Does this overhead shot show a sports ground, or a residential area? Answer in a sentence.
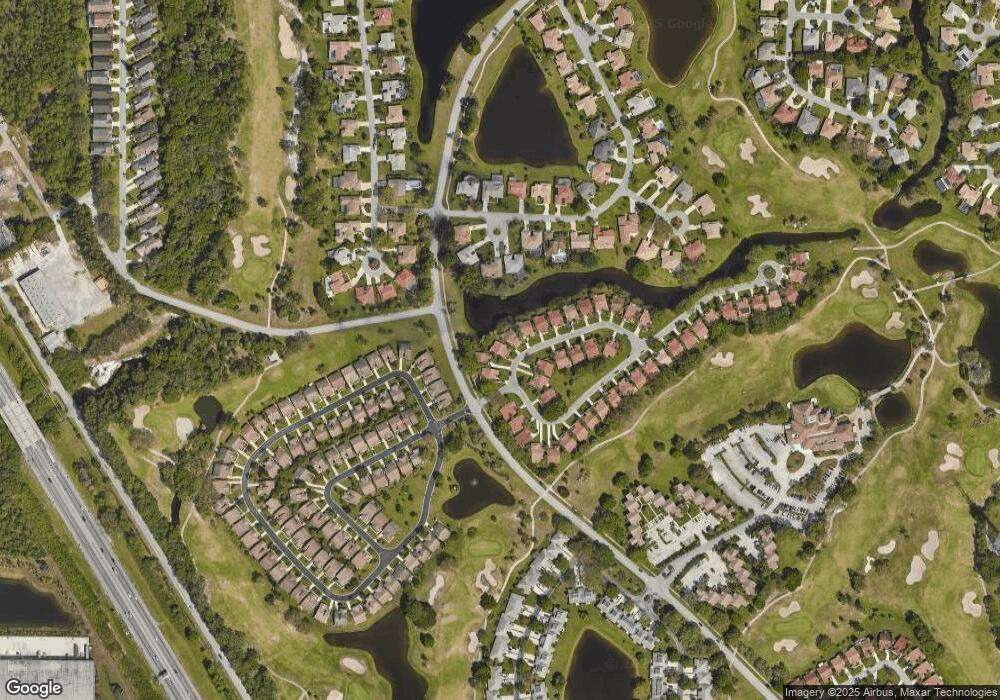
It's a residential area.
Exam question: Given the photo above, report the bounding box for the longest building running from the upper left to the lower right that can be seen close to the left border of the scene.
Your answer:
[18,268,71,334]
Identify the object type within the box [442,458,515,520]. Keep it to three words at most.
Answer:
pond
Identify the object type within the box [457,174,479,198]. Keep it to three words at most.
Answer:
house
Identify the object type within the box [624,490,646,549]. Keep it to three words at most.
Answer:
building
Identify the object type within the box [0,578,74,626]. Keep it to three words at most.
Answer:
pond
